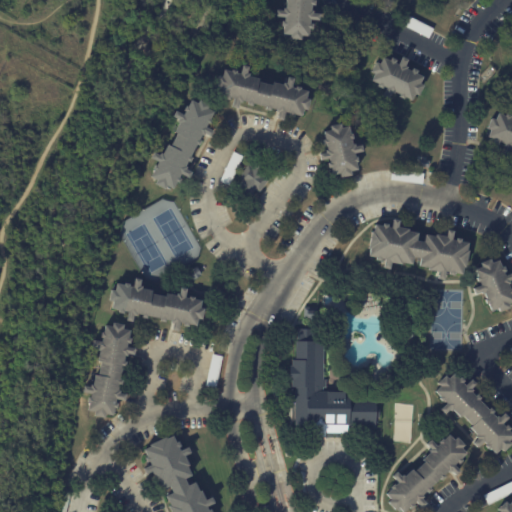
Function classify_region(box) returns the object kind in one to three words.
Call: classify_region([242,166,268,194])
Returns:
building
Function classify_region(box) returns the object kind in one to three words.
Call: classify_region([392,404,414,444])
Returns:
sports court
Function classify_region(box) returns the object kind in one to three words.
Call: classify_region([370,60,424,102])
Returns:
building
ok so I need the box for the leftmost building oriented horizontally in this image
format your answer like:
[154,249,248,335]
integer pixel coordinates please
[108,282,204,329]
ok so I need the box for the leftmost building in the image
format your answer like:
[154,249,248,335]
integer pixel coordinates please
[84,324,131,418]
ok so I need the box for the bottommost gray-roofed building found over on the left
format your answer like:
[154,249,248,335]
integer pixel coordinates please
[145,436,210,512]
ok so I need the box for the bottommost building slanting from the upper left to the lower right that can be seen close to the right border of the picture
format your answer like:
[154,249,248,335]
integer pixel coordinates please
[438,374,512,456]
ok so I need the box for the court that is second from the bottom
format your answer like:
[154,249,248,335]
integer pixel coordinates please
[432,320,462,350]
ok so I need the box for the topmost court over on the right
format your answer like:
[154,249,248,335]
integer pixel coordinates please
[432,290,462,320]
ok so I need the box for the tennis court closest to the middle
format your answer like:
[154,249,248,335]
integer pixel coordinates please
[154,210,192,257]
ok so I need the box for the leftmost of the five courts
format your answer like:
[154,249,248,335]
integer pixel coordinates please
[128,224,164,273]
